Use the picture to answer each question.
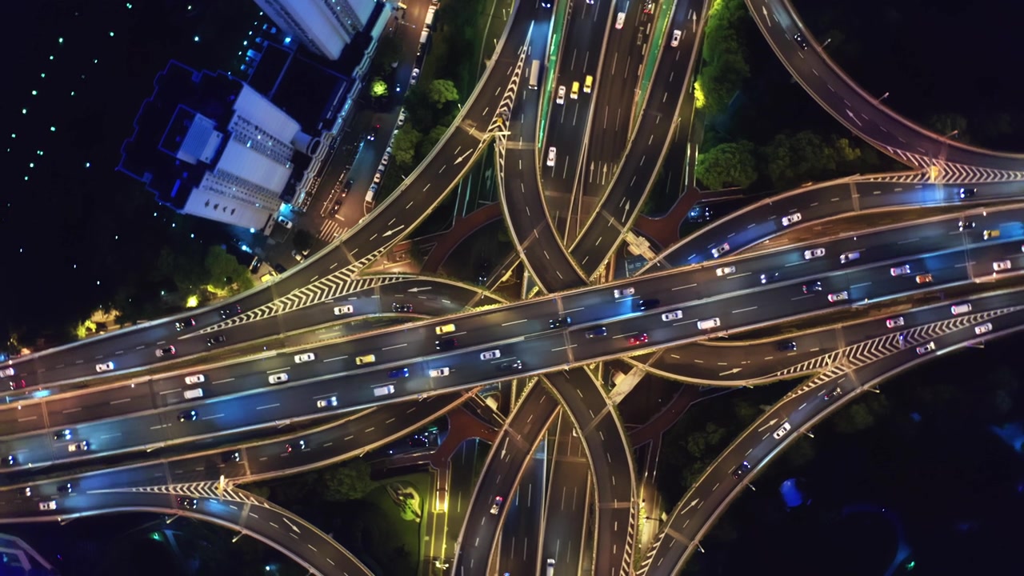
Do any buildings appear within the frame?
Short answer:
Yes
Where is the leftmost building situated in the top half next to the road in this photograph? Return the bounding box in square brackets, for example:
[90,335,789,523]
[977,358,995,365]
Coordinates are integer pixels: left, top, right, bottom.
[113,58,301,240]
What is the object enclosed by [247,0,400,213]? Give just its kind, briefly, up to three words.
building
